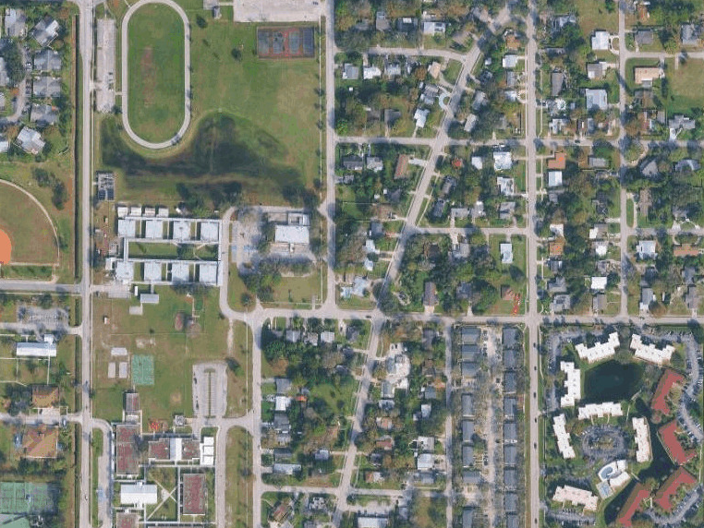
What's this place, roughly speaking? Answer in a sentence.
This image shows a residential area.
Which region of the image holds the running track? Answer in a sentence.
The running track sits in the top left section of the image.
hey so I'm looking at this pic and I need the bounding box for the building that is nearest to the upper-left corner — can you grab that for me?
[3,7,27,37]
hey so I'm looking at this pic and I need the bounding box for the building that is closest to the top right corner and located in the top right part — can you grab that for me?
[680,23,703,45]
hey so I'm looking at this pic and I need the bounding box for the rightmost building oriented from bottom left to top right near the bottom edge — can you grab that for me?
[654,469,699,512]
